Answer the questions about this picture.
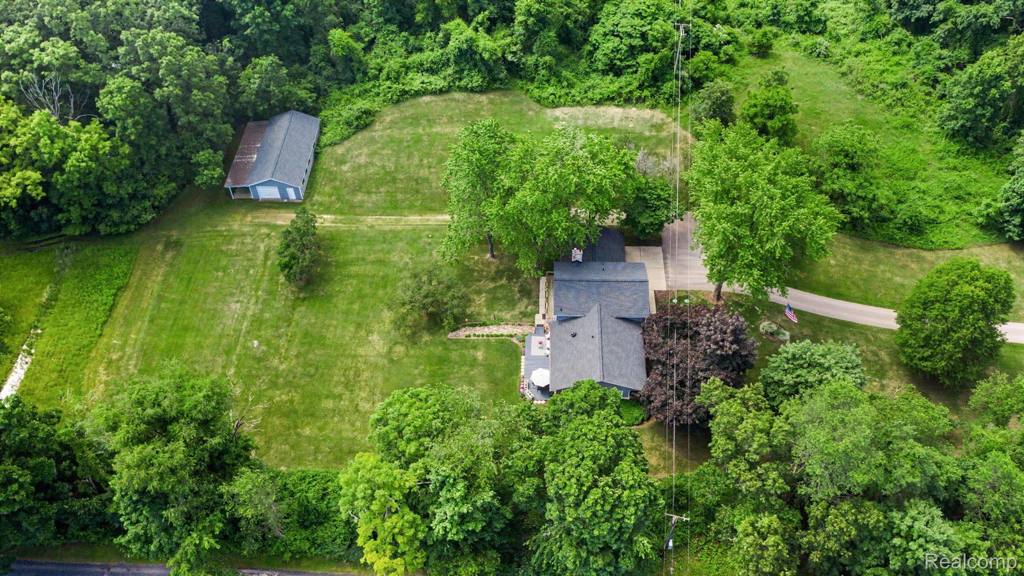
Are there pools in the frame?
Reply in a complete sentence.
No, the photo shows no pool.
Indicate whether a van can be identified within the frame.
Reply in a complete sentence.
No, I can't see a single van in this photo.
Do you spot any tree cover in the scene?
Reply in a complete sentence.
Yes, there is tree cover in the image.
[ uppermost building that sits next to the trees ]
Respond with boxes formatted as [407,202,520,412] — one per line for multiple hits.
[225,111,319,201]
